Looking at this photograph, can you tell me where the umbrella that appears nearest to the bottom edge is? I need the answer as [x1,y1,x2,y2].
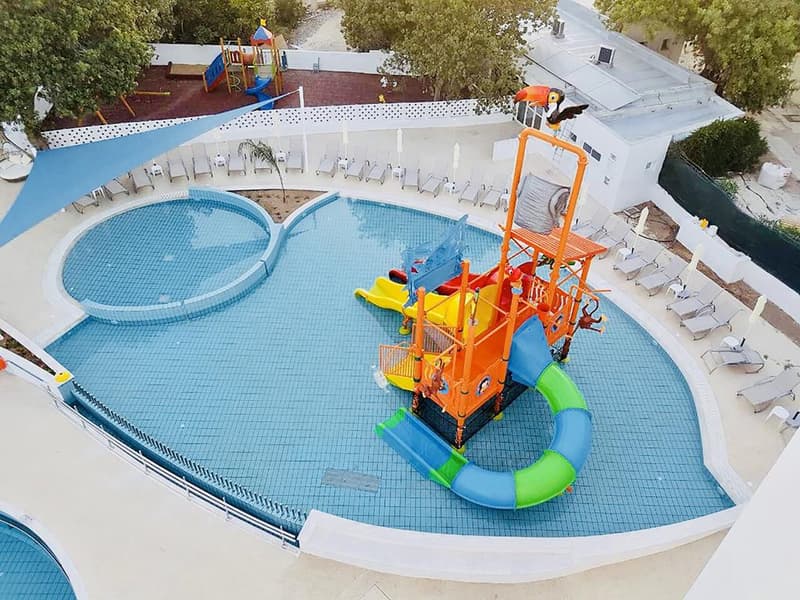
[745,294,771,336]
